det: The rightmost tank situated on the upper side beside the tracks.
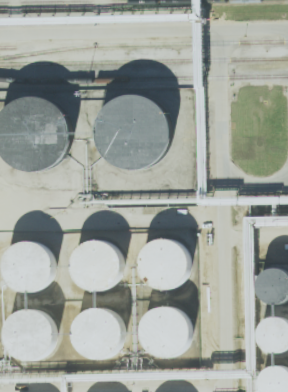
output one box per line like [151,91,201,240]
[93,95,174,174]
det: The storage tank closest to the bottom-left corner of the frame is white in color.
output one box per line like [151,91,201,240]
[2,310,57,362]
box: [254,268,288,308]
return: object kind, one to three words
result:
storage tank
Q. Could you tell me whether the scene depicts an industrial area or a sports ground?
industrial area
